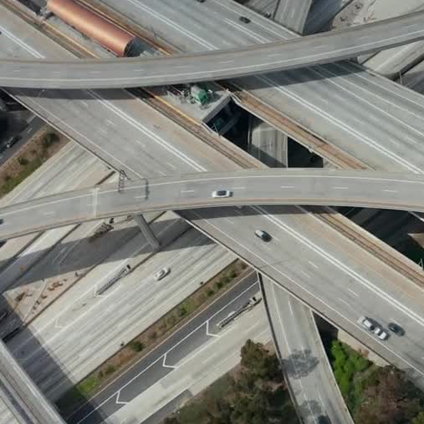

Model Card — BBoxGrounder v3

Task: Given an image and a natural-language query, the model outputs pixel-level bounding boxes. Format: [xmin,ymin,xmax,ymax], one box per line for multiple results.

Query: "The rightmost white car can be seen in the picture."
[372,326,391,341]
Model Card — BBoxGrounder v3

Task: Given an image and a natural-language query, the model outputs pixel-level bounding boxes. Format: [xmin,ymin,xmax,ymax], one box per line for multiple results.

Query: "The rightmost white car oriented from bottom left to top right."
[154,267,170,281]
